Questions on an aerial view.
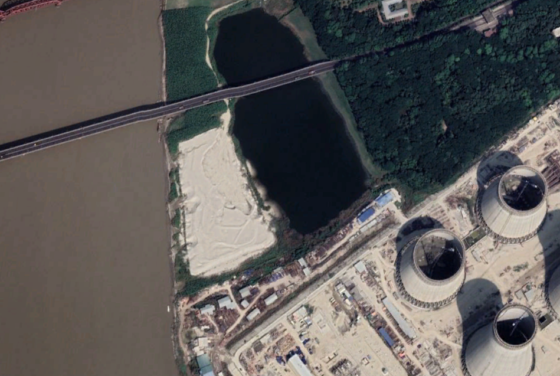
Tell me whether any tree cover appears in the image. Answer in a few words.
Yes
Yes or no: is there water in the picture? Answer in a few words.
Yes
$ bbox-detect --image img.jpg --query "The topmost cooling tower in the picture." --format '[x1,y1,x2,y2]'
[475,164,548,245]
